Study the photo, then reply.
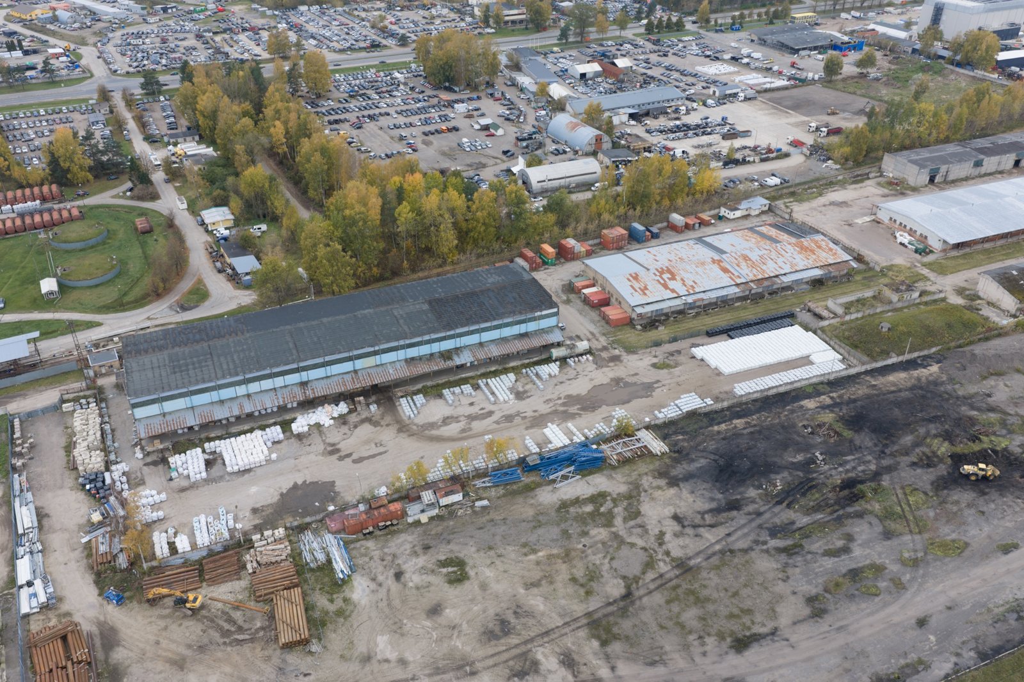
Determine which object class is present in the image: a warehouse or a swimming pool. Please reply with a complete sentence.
The image shows a warehouse.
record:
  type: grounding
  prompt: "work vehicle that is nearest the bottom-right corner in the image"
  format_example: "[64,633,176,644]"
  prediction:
[956,462,1003,484]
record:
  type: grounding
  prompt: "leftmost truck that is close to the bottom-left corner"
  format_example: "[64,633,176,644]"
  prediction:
[102,584,126,609]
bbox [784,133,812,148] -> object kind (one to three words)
vehicle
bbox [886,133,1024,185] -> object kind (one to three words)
building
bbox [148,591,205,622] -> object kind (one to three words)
work vehicle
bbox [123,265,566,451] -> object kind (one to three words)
warehouse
